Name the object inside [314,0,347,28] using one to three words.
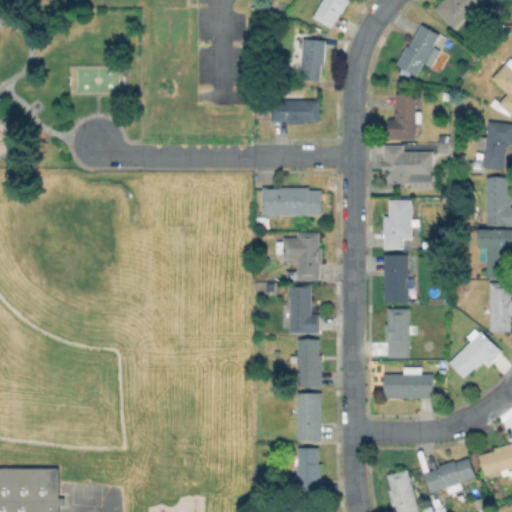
house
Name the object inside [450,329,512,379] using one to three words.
house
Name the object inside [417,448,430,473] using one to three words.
vehicle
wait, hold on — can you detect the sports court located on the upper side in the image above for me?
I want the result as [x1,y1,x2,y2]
[70,66,124,95]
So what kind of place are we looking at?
residential area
